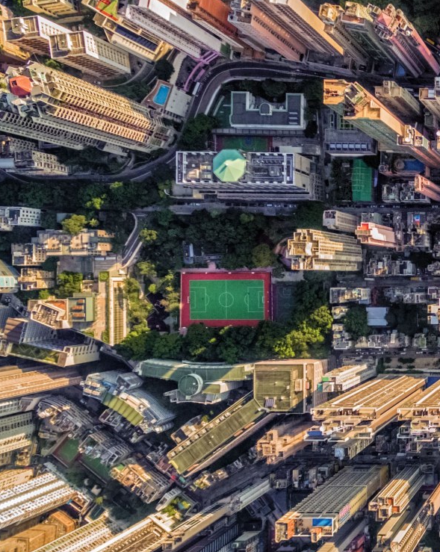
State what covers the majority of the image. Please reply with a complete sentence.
For the most part, this view shows buildings.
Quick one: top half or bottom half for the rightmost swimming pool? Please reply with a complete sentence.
The rightmost swimming pool is in the top half of the image.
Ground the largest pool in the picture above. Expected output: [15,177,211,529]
[140,79,173,116]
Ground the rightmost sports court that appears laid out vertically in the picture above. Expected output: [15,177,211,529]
[352,159,372,201]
